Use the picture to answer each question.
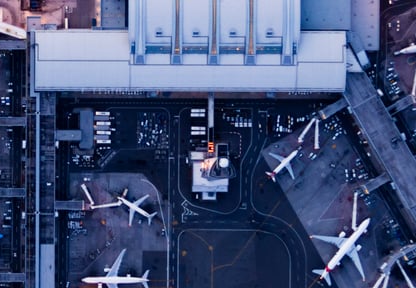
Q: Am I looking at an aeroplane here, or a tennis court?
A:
aeroplane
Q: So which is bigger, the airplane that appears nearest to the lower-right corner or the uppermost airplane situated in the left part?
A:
the airplane that appears nearest to the lower-right corner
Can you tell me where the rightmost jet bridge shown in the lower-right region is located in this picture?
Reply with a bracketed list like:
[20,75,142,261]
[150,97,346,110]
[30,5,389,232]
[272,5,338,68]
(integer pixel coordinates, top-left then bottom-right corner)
[397,259,414,288]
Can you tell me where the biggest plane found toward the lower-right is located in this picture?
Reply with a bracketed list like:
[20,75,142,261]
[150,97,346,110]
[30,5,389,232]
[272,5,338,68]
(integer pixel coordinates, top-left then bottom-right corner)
[312,218,370,281]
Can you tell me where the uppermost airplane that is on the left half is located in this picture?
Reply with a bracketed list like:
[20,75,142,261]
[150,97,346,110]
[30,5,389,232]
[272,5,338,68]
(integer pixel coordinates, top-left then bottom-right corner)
[119,193,153,226]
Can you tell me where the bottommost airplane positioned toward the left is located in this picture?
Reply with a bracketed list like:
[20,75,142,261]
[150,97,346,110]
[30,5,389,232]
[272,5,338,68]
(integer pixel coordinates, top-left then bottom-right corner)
[81,248,146,288]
